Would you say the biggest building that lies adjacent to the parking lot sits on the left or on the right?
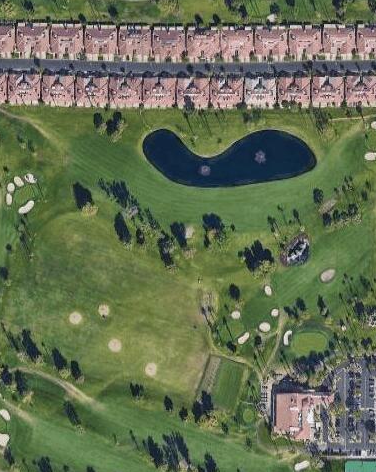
right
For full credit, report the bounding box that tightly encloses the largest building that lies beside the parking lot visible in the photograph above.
[262,376,336,441]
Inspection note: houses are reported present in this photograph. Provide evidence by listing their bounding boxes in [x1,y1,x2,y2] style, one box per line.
[211,75,242,106]
[51,24,82,59]
[221,24,253,59]
[0,24,15,59]
[277,76,310,106]
[289,24,321,59]
[345,76,376,106]
[255,24,287,59]
[17,24,49,59]
[312,75,344,106]
[42,75,74,106]
[244,75,276,106]
[109,76,142,106]
[177,75,209,106]
[84,24,116,59]
[356,24,376,59]
[187,24,219,59]
[118,24,150,59]
[76,76,108,106]
[9,75,41,106]
[152,24,185,59]
[144,75,175,106]
[323,24,355,59]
